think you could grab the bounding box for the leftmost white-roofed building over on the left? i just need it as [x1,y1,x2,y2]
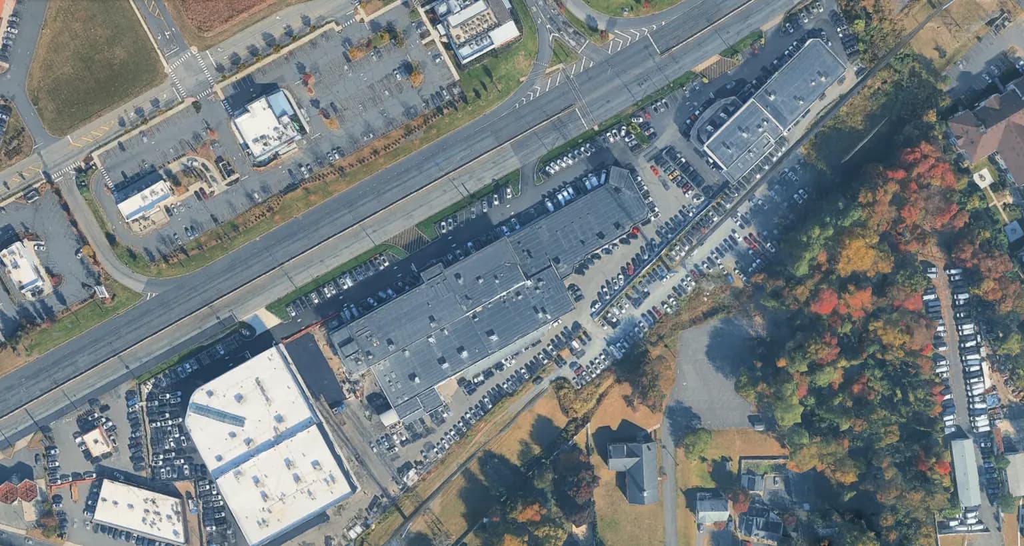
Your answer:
[0,242,44,293]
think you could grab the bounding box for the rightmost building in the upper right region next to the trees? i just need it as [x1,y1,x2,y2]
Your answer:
[947,75,1024,200]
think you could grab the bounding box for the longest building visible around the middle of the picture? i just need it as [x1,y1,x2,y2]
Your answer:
[329,186,648,427]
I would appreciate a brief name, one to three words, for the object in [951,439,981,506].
shed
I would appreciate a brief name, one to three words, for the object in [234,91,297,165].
building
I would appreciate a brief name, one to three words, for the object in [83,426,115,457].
building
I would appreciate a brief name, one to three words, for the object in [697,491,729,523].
house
